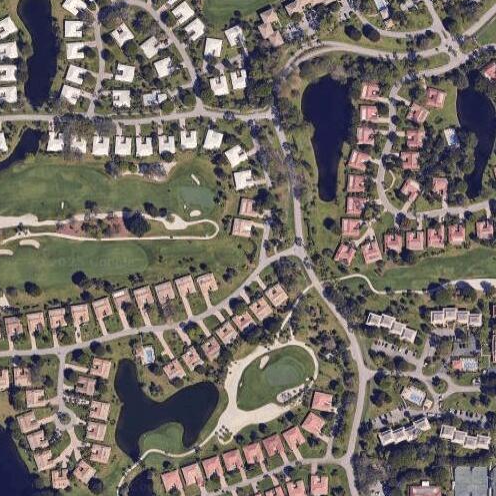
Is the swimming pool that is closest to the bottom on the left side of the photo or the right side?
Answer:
right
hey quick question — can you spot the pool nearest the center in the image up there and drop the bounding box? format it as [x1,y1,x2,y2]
[143,346,155,363]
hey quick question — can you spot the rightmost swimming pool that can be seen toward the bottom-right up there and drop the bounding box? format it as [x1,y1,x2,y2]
[464,357,478,371]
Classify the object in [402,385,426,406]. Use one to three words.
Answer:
swimming pool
